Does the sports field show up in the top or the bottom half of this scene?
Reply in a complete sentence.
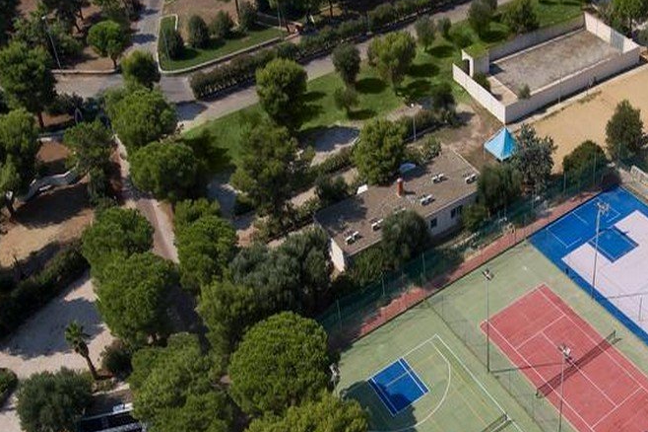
The sports field sits in the top half of the picture.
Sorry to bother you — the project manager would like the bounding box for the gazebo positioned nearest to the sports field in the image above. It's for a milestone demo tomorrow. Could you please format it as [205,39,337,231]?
[484,132,511,162]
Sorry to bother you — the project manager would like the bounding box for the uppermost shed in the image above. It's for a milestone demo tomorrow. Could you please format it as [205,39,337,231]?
[445,44,489,79]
